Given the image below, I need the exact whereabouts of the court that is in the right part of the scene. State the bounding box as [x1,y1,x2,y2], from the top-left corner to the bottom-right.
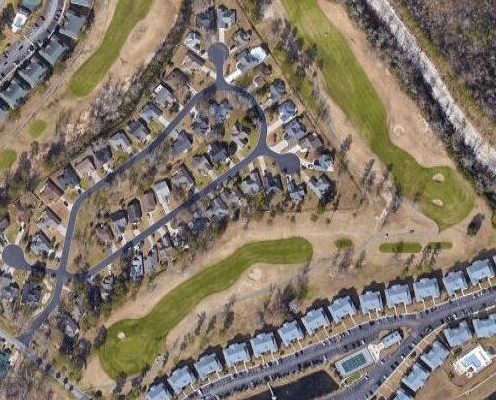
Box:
[336,346,373,377]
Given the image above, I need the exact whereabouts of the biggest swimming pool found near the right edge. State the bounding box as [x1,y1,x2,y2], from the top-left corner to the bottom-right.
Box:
[453,343,495,376]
